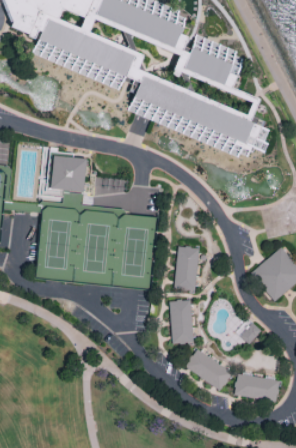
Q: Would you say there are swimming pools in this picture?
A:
Yes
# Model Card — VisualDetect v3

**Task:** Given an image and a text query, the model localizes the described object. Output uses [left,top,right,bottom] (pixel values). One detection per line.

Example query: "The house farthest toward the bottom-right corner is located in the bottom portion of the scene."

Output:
[234,372,280,402]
